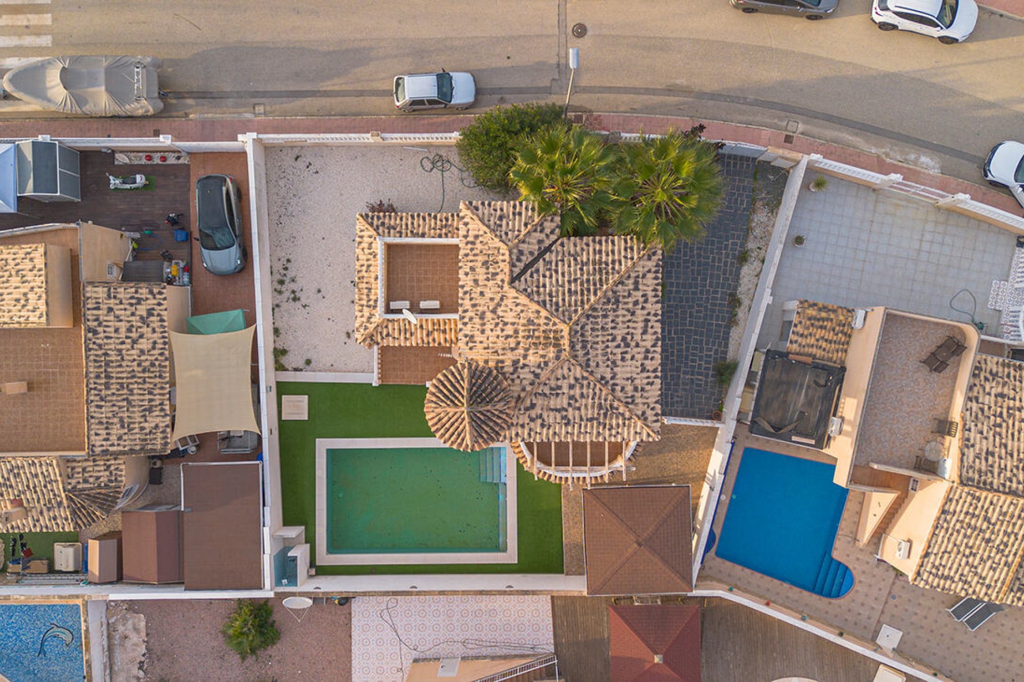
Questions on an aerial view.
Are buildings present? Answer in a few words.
Yes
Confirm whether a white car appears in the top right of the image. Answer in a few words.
Yes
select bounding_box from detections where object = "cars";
[729,0,839,20]
[195,175,248,275]
[394,67,477,113]
[876,0,983,45]
[985,142,1024,199]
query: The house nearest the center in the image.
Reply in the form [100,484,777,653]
[353,199,664,487]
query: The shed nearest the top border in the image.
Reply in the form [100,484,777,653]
[16,140,80,202]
